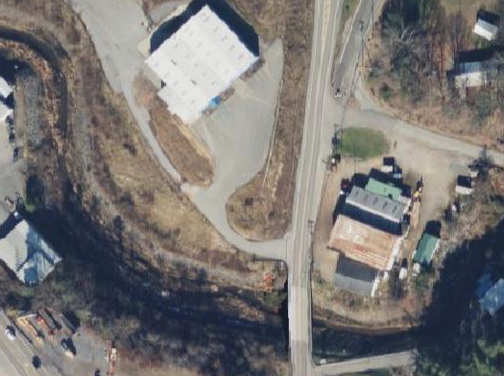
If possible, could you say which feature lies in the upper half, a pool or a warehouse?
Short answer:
warehouse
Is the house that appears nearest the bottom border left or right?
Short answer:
right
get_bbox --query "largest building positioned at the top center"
[144,4,264,124]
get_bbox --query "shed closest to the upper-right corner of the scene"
[472,15,499,40]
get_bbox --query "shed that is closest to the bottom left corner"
[0,220,63,283]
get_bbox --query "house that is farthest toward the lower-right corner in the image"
[478,279,504,314]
